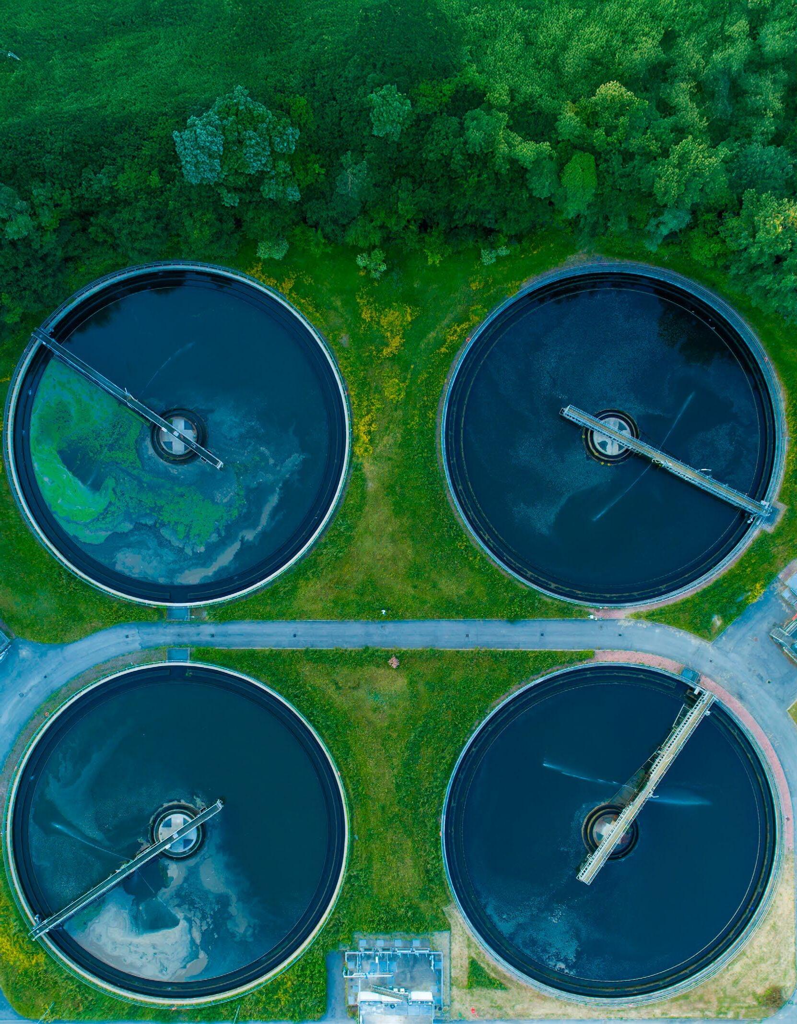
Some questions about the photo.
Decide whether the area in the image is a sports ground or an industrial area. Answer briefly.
industrial area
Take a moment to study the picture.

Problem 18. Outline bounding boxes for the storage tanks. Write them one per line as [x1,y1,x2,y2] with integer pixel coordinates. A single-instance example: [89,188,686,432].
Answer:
[440,261,787,608]
[2,663,348,1010]
[3,262,349,608]
[440,663,787,1011]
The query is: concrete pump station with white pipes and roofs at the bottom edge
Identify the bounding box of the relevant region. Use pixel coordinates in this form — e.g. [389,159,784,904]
[339,931,450,1024]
